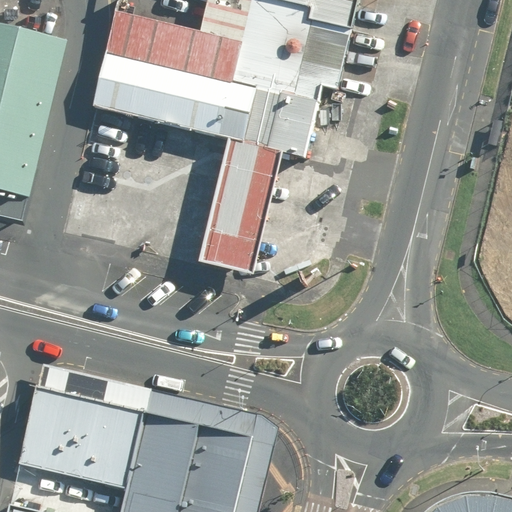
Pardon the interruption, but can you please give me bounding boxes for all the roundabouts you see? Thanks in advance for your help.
[336,356,410,430]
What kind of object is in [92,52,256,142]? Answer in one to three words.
building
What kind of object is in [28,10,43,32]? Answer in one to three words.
vehicle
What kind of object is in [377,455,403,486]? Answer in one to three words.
car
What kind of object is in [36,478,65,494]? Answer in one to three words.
car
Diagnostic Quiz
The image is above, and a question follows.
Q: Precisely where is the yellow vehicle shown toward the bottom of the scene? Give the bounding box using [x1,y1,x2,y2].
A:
[268,331,290,344]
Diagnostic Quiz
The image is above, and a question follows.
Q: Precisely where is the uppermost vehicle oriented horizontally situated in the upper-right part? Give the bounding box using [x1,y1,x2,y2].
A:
[356,10,388,25]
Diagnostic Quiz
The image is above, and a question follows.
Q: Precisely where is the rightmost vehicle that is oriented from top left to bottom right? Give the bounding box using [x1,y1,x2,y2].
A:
[390,346,417,370]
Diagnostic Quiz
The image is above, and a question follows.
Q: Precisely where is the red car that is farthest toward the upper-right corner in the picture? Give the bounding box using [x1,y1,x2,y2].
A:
[404,19,422,52]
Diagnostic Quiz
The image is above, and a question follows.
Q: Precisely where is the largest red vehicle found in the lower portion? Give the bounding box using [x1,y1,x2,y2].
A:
[32,340,63,358]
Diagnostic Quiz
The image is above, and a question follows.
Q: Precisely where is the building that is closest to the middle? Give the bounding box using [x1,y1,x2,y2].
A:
[198,138,283,276]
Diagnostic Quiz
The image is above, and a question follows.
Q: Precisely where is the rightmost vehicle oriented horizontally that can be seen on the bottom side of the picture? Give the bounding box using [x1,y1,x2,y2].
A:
[315,336,344,351]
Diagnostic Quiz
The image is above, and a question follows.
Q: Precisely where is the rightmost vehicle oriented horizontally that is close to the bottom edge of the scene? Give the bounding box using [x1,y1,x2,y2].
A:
[91,492,120,508]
